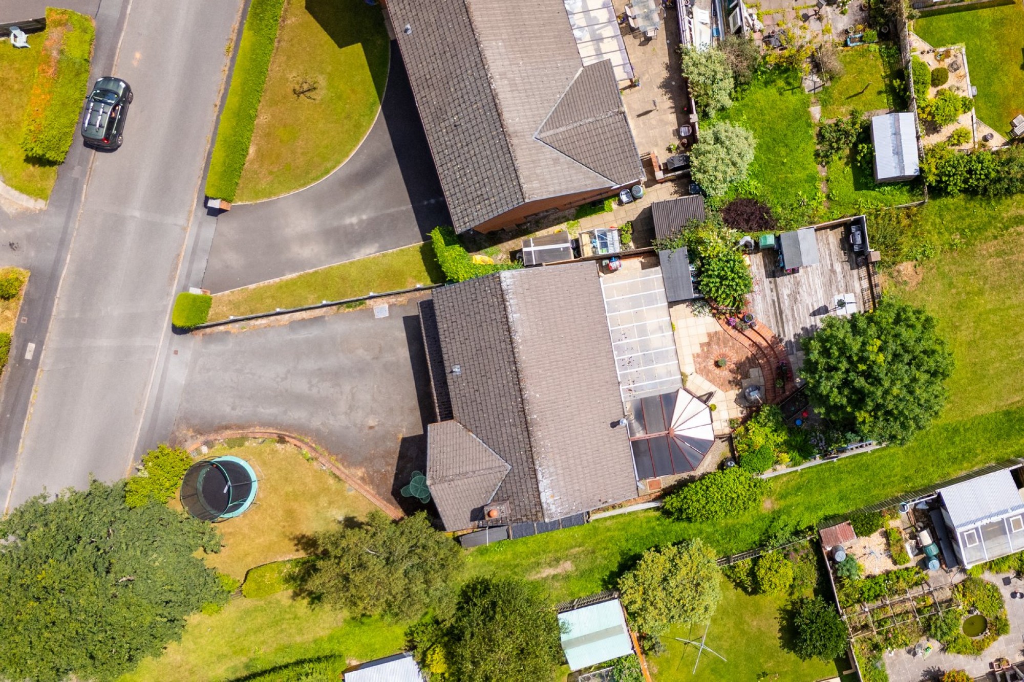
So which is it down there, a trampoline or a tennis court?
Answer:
trampoline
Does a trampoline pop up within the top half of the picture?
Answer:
No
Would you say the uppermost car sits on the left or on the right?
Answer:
left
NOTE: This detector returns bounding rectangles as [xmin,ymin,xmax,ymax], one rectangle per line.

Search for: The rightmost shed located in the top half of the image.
[866,112,919,187]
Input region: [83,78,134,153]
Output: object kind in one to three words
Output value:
car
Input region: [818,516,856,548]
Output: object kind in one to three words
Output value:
shed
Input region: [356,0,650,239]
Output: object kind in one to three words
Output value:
house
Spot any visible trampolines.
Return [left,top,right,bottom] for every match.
[178,449,266,531]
